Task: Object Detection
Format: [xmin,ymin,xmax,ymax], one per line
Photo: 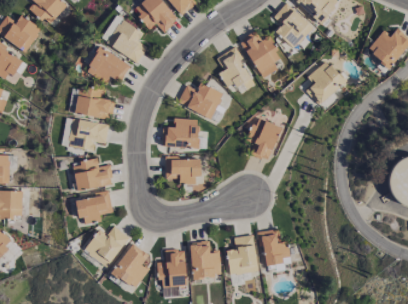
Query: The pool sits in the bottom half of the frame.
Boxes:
[273,280,296,295]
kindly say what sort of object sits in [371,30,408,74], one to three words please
house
